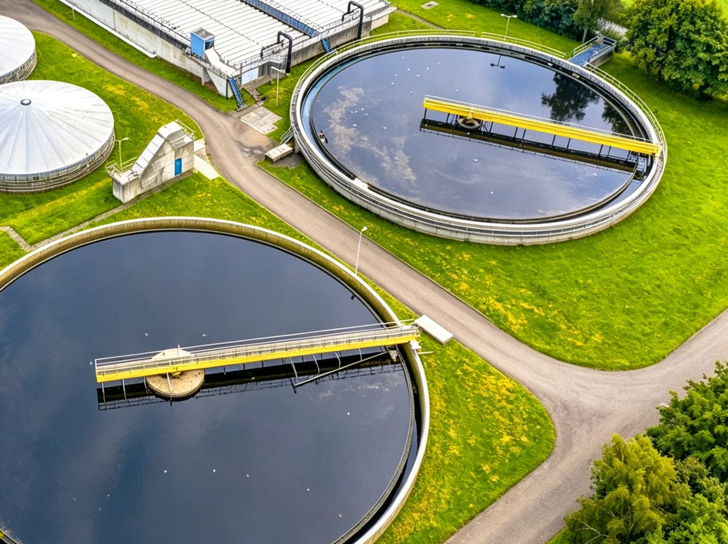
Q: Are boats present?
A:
No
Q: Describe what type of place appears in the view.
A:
industrial area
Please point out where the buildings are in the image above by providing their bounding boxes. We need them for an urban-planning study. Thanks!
[67,0,405,99]
[107,118,195,203]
